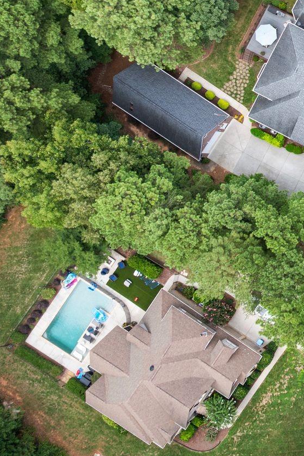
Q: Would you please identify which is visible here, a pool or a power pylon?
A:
pool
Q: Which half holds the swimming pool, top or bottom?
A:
bottom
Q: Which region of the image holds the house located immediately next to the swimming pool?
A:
bottom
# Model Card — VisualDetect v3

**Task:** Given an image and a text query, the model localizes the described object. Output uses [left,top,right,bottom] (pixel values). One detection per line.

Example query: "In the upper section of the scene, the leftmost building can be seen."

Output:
[112,61,233,160]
